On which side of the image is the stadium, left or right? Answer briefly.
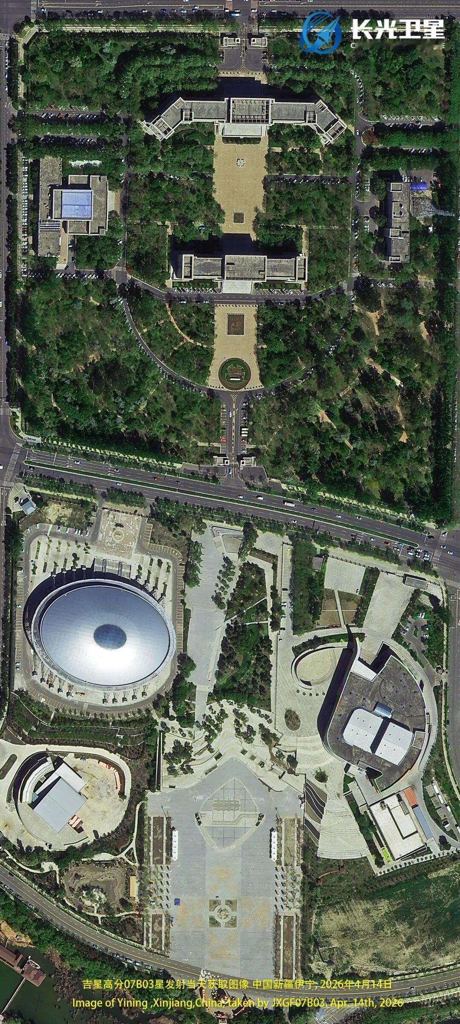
left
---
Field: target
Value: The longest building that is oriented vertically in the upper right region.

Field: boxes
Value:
[383,182,411,263]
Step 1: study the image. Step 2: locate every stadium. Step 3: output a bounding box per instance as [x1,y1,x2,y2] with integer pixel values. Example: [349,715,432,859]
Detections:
[30,558,175,703]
